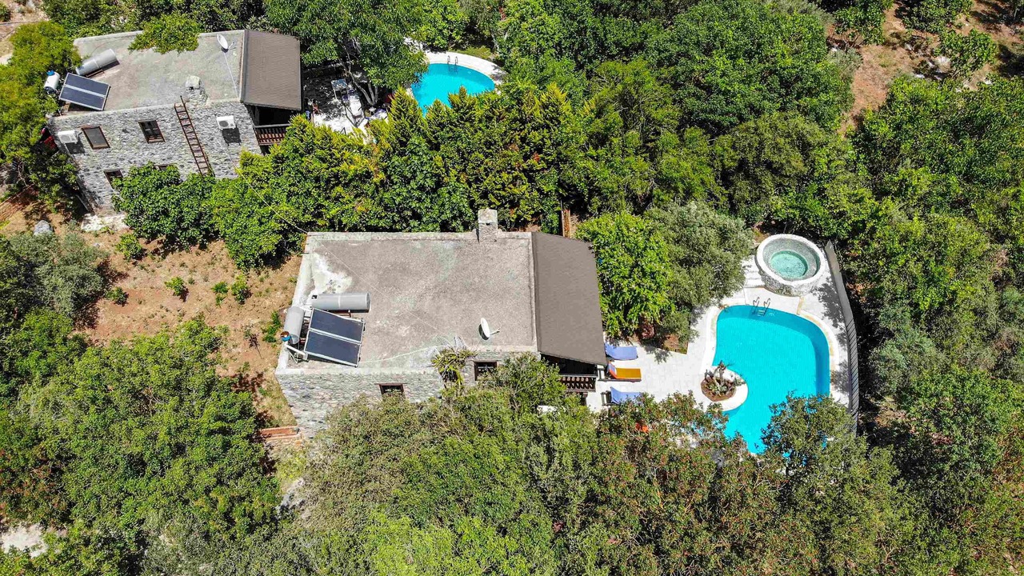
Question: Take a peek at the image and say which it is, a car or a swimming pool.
swimming pool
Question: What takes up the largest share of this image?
trees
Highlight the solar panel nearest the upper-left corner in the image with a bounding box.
[59,73,119,111]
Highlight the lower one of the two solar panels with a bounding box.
[303,308,369,366]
